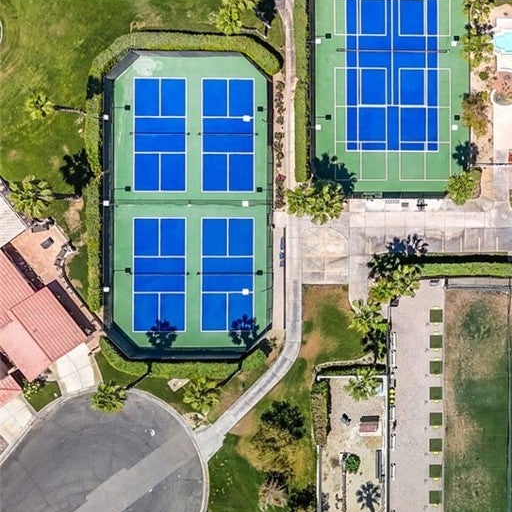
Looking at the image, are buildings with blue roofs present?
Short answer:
No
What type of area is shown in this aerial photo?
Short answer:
sports ground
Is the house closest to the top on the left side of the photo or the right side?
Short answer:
left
